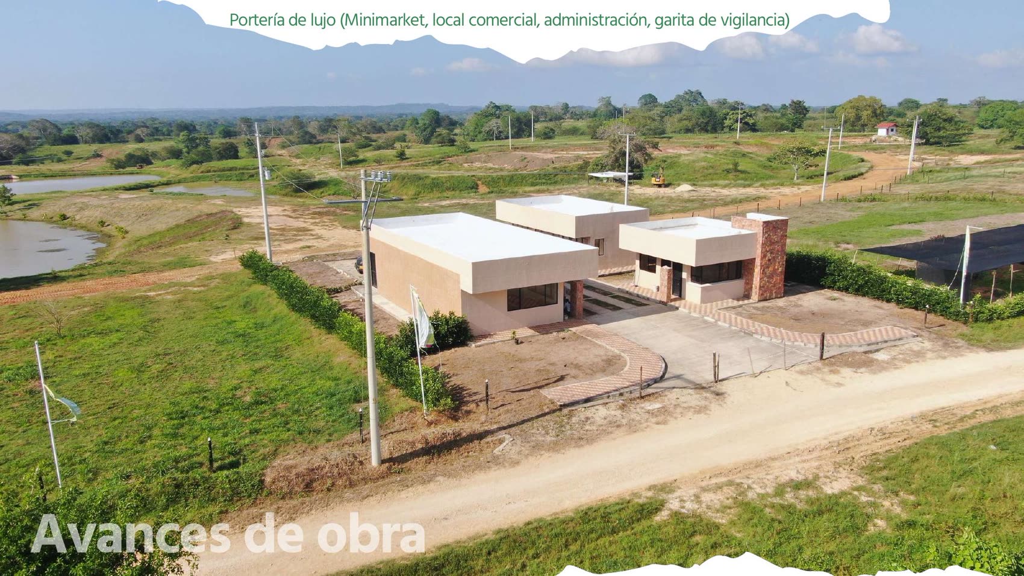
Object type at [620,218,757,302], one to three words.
building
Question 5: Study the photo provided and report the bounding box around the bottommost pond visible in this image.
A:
[0,220,108,278]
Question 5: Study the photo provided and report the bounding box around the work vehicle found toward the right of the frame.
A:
[651,164,666,189]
